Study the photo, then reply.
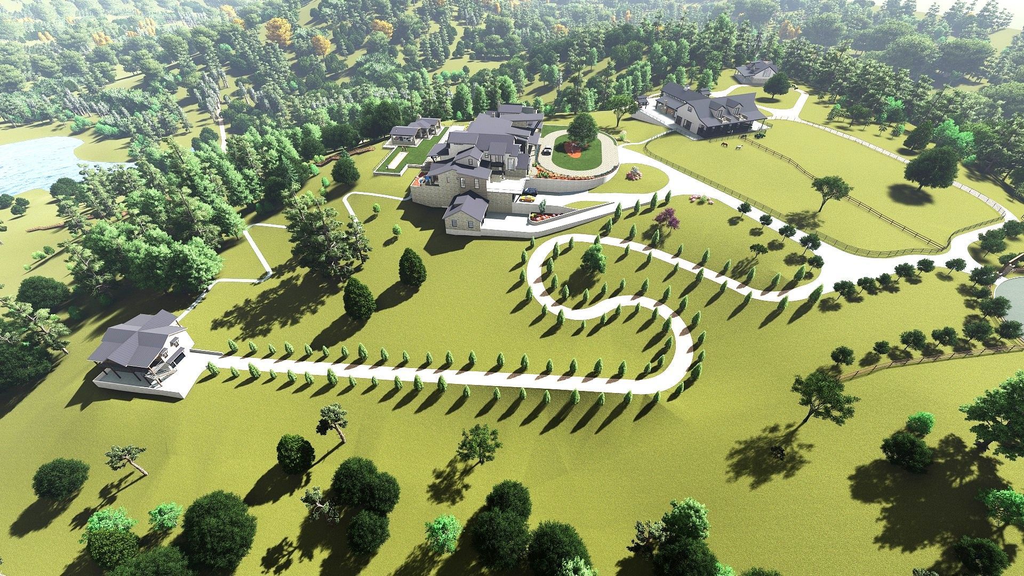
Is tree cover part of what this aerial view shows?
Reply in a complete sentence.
Yes, the picture does contain tree cover.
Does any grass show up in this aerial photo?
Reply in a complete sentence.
Yes, grass can be seen from above here.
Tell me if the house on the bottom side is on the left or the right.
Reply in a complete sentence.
It is on the left.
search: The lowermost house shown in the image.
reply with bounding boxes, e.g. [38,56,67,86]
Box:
[86,308,195,387]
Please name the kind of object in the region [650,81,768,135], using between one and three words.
barn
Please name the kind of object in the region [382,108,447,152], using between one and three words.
building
